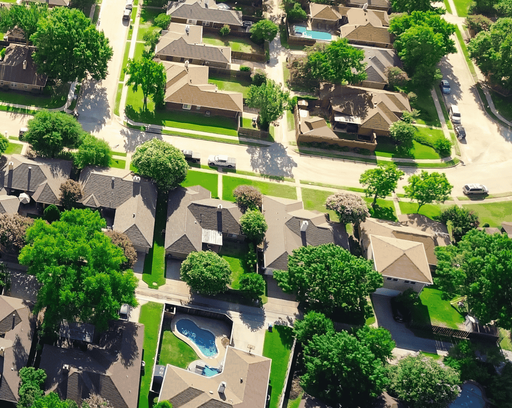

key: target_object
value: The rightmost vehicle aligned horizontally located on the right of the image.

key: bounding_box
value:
[464,184,492,197]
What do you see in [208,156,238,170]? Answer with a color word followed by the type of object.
white vehicle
